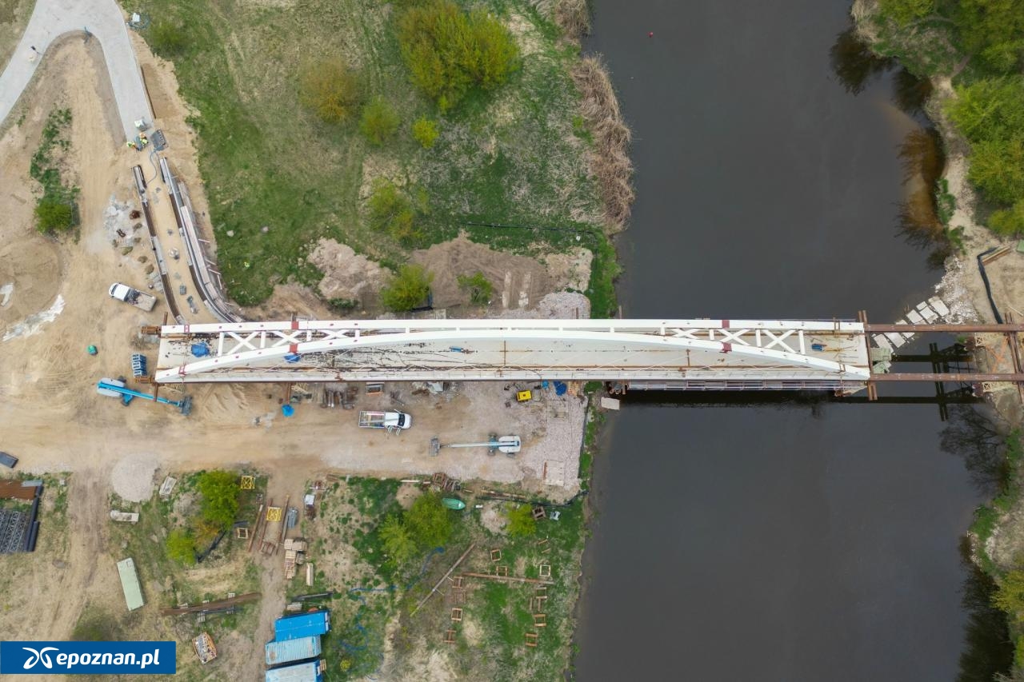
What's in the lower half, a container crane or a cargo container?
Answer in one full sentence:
What appears in the lower half is a cargo container.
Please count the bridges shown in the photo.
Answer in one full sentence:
In total, 1 bridge can be seen.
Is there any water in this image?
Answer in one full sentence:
Yes, water shows up in the scene.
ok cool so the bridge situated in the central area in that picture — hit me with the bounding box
[151,317,874,383]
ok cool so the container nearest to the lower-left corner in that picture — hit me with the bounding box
[117,557,147,611]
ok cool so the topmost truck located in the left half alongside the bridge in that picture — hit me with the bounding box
[106,281,159,311]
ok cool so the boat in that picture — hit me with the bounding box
[442,496,466,510]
